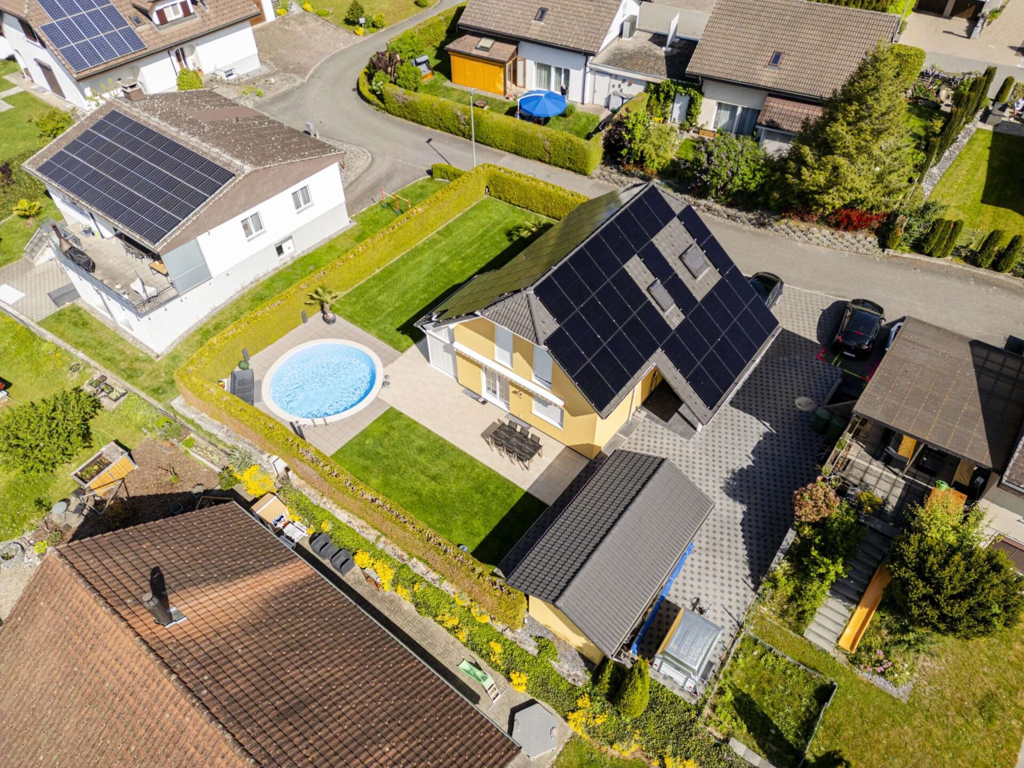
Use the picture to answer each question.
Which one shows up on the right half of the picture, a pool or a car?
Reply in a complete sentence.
You can see a car on the right half of the picture.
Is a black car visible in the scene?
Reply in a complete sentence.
Yes, looking at the shot, I can spot a black car.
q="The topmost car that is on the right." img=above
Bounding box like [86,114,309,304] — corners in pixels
[750,263,797,314]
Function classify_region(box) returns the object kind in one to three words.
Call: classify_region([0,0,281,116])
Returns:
house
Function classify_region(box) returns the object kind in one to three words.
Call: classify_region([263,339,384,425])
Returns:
swimming pool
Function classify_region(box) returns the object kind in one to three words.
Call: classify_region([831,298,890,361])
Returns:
car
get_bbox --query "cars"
[750,263,797,314]
[831,298,890,361]
[878,314,907,365]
